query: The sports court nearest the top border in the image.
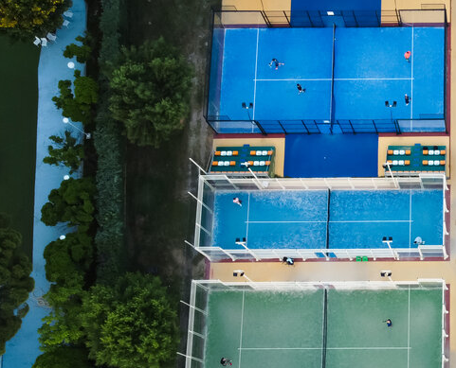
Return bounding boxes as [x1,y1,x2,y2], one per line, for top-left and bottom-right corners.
[201,3,451,139]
